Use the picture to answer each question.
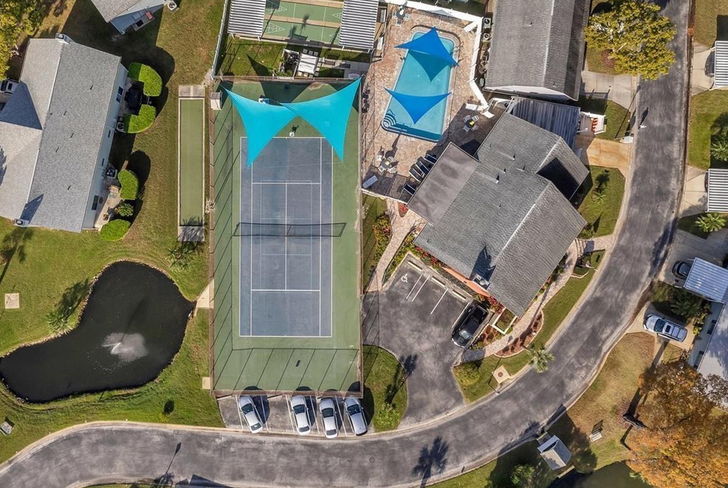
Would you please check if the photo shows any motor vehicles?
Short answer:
Yes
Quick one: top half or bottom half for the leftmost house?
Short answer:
top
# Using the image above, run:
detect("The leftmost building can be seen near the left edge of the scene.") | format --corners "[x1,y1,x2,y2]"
[0,31,127,233]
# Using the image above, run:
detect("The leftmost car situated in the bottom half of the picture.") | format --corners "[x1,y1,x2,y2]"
[239,395,264,435]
